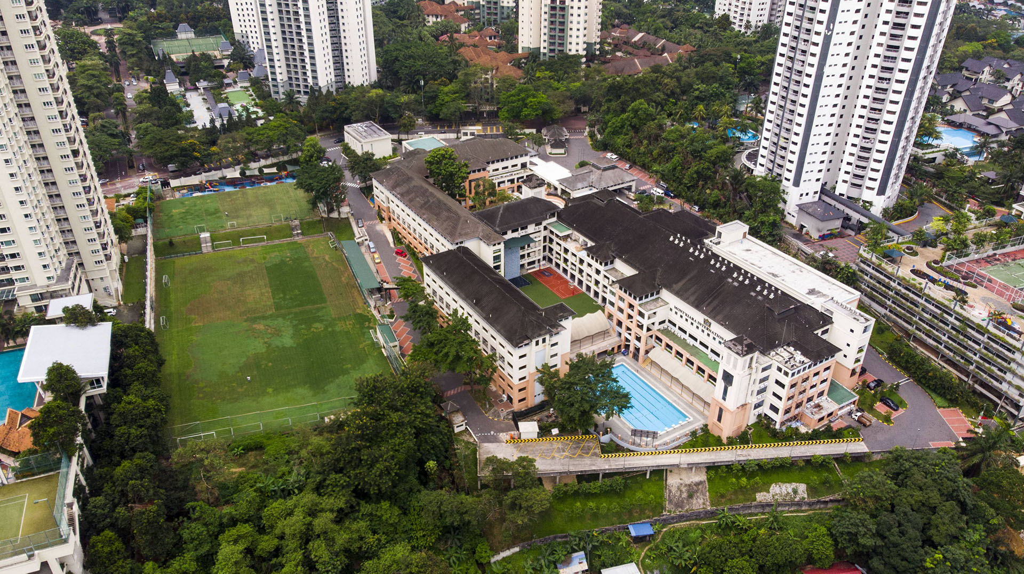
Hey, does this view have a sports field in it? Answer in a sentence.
Yes, a sports field appears in the view.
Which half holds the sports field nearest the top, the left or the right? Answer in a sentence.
The sports field nearest the top sits on the left side.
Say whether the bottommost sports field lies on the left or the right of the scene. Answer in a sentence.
The bottommost sports field appears in the left half of the scene.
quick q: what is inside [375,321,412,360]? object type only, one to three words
building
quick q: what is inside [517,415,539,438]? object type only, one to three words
shed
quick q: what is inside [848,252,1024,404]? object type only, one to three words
building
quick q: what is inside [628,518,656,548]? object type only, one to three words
shed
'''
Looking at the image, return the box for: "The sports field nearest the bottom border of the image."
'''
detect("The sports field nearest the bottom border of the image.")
[155,235,397,443]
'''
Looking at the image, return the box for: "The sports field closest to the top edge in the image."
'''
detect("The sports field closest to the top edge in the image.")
[154,179,329,242]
